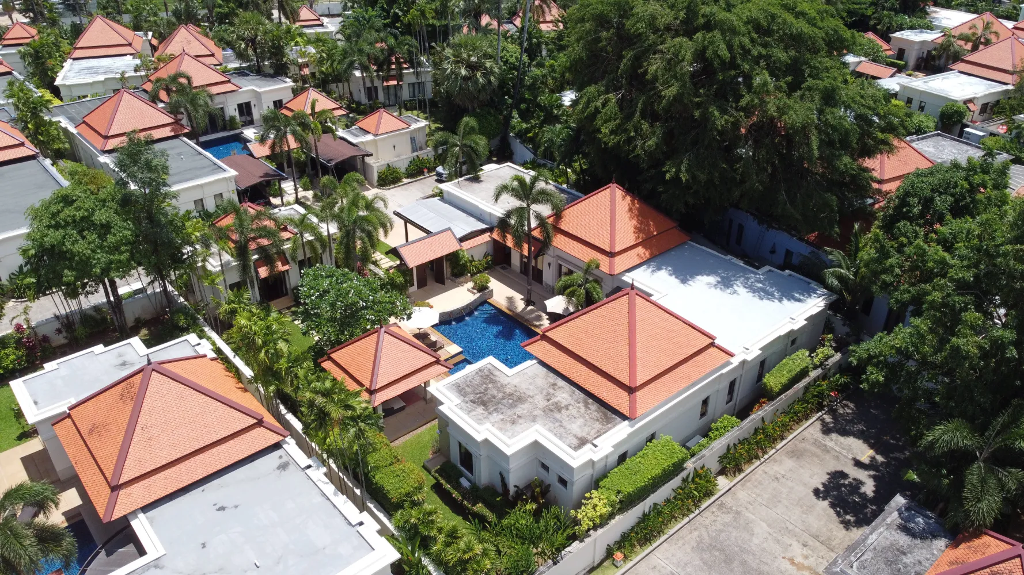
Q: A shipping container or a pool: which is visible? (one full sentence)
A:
It is a pool that can be seen here.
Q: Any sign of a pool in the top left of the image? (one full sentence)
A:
Yes, a pool appears in the top left of the image.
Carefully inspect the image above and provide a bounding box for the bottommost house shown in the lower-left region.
[9,334,402,575]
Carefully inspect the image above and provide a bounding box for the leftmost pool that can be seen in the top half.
[195,130,256,159]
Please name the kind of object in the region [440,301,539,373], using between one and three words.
swimming pool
